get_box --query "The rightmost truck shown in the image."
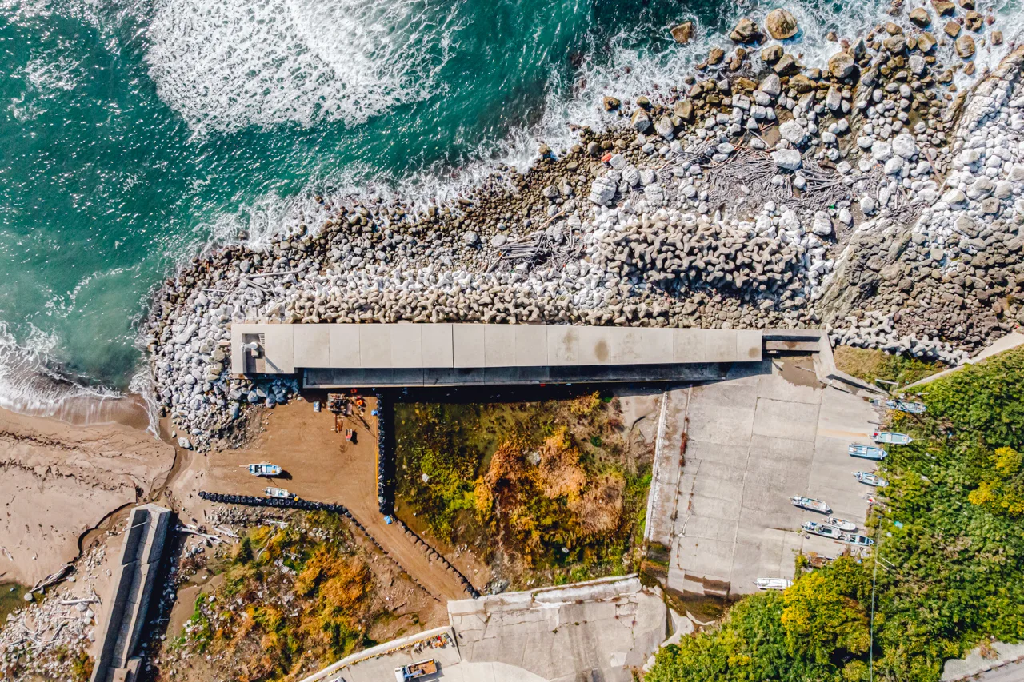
[393,657,438,682]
